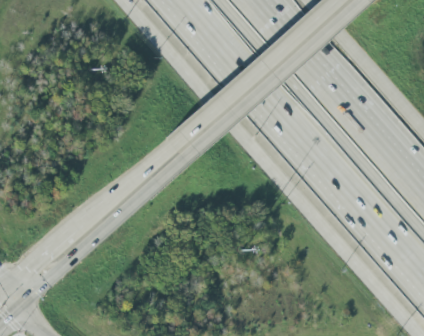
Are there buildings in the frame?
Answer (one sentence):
No, there isn't any building down there.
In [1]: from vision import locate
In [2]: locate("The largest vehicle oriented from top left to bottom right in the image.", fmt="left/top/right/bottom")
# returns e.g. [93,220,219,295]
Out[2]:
[341,109,364,135]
